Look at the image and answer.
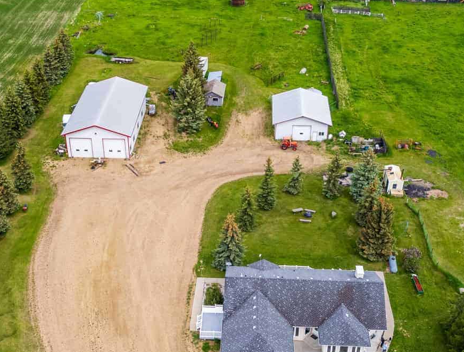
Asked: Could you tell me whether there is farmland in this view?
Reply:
Yes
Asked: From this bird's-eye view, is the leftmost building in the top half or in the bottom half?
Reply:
top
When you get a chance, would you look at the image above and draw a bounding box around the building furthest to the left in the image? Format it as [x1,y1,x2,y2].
[63,78,145,158]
